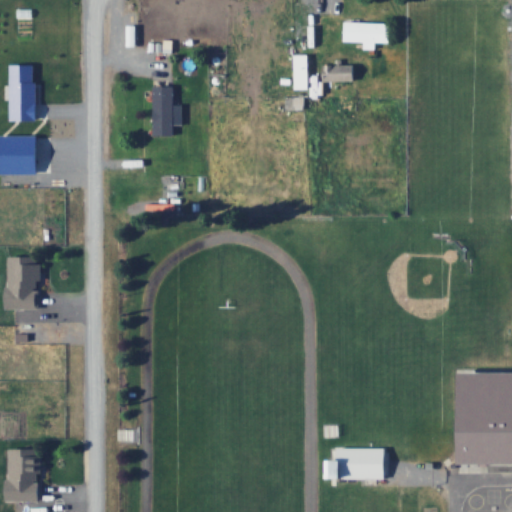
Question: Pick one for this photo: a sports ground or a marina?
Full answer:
This looks like a sports ground.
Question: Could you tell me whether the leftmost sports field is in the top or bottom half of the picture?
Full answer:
The leftmost sports field sits in the bottom half of the picture.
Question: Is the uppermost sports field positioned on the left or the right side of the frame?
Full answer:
The uppermost sports field sits on the right side.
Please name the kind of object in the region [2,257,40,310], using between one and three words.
house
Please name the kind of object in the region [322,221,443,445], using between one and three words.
sports field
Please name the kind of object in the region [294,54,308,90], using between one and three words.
building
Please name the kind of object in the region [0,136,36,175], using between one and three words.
barn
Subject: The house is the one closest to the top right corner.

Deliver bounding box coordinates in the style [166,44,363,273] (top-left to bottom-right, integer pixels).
[342,20,388,55]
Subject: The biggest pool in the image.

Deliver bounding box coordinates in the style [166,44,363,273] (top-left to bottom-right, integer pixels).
[182,57,196,74]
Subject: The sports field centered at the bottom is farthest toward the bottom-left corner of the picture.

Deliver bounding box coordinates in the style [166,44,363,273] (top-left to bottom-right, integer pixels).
[160,262,300,512]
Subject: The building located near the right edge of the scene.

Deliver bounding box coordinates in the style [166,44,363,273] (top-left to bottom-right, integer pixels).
[456,370,512,472]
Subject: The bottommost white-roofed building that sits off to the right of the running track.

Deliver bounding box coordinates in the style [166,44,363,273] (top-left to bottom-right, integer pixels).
[323,444,388,483]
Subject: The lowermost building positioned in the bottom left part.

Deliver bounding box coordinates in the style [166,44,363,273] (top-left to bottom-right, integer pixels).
[2,450,38,504]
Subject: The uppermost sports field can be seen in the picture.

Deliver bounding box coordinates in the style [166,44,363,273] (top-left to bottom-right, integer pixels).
[411,3,505,216]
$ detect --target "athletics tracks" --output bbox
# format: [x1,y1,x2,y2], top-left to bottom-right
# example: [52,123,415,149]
[140,230,319,512]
